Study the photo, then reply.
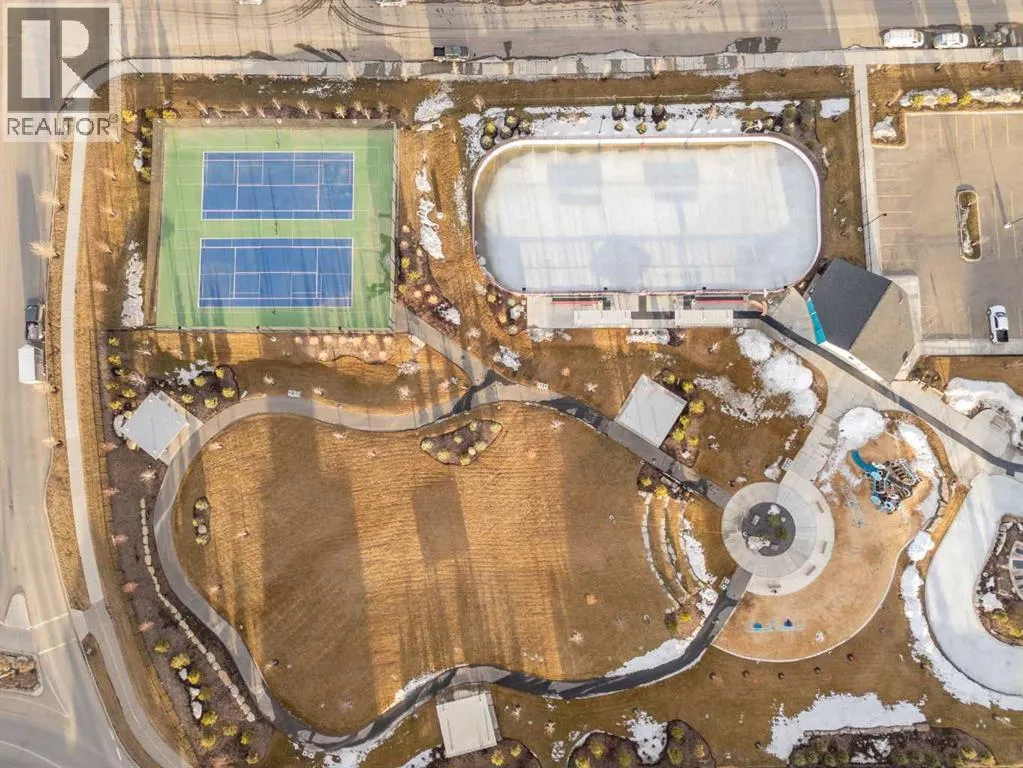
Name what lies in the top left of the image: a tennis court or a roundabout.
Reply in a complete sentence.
What appears in the top left of the image is a tennis court.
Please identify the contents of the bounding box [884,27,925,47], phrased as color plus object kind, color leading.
white vehicle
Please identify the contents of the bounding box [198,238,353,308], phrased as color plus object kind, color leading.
blue tennis court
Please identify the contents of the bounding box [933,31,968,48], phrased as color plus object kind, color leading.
white car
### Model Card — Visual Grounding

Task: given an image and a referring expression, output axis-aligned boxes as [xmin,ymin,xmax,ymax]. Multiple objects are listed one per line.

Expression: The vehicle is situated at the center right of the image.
[989,306,1010,344]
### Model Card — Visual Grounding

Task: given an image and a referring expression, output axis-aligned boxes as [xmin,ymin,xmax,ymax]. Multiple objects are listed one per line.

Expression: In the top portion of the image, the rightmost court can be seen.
[474,134,821,294]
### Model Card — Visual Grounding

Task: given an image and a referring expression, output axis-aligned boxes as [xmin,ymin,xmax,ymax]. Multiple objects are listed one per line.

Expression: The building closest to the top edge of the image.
[805,258,916,382]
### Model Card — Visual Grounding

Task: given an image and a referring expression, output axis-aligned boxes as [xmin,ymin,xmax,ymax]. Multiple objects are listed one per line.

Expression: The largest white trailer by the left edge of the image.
[13,341,41,384]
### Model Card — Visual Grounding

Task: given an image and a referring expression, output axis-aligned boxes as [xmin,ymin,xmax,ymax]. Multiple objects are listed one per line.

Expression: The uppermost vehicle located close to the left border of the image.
[22,302,42,341]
